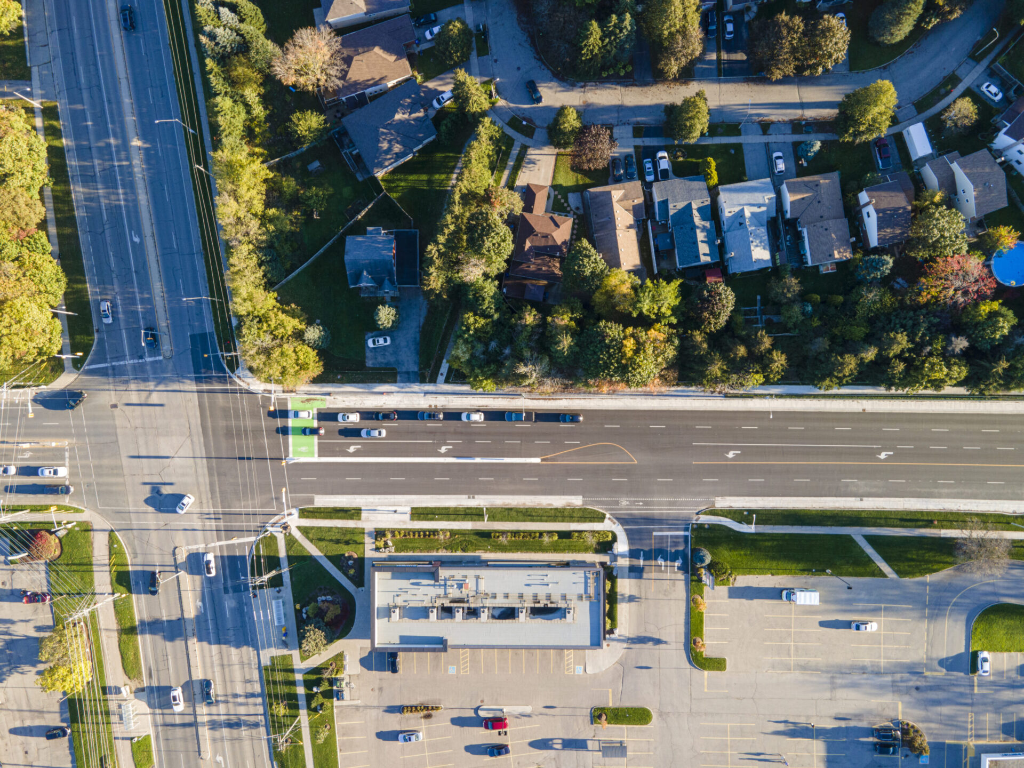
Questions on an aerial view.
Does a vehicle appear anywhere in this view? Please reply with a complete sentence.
Yes, this view includes a vehicle.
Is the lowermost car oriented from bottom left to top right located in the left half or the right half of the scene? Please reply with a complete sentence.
You can find the lowermost car oriented from bottom left to top right on the left side of the picture.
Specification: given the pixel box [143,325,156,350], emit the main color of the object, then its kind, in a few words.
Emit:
blue vehicle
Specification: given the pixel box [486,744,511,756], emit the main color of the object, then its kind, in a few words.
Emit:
blue vehicle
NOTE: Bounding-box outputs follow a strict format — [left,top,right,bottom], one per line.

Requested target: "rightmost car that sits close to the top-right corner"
[979,80,1003,102]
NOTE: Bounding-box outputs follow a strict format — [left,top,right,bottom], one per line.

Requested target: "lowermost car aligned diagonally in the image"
[175,491,195,515]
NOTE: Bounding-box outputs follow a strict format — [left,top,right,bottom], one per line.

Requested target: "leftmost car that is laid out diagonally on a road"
[66,389,90,411]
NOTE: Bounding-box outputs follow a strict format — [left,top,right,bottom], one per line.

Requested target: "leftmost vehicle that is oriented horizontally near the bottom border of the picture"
[45,726,71,739]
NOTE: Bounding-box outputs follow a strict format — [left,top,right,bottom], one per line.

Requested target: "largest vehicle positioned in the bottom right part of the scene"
[781,589,820,605]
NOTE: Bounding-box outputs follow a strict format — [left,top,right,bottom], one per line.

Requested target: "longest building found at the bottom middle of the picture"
[371,555,606,652]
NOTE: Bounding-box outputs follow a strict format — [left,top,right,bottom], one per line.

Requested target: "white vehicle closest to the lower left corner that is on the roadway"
[171,686,184,711]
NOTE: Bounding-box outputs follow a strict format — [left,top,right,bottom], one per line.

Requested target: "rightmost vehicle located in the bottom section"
[977,650,991,675]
